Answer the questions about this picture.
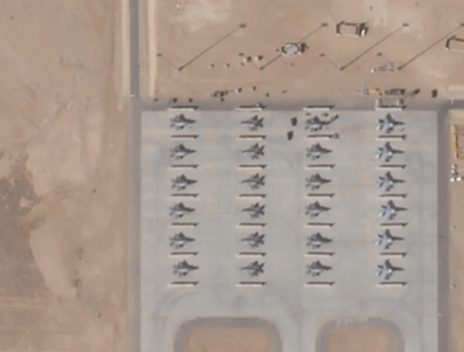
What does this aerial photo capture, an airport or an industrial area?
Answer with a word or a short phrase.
airport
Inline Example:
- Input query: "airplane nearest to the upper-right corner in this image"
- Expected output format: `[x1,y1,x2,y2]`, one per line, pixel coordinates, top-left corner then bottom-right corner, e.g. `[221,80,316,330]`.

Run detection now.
[376,115,400,133]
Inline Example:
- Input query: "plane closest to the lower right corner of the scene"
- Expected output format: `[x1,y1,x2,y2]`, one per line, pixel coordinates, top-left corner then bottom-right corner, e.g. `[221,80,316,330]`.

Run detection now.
[375,261,400,278]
